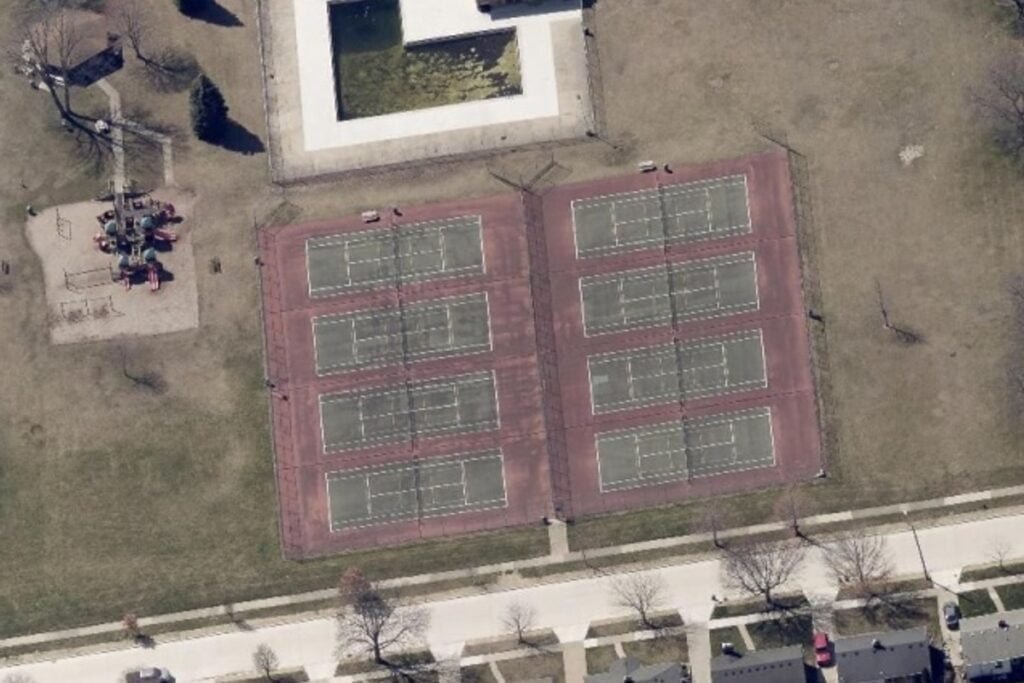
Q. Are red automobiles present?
Yes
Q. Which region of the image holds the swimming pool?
top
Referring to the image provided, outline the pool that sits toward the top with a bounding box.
[292,0,582,152]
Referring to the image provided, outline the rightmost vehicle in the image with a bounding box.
[942,601,960,631]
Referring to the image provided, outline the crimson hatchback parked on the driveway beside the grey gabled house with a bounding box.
[814,633,834,665]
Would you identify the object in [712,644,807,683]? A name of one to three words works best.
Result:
house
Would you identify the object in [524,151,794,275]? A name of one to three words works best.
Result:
tennis court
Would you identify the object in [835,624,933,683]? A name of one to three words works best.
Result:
house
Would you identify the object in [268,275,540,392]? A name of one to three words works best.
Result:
tennis court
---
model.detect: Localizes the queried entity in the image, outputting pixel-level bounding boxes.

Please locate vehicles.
[126,668,174,683]
[814,633,834,665]
[942,601,960,631]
